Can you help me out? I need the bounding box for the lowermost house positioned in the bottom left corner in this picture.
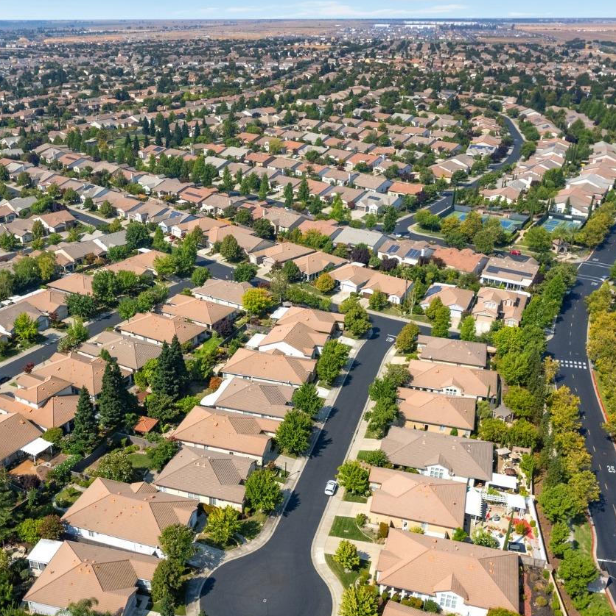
[6,542,159,616]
